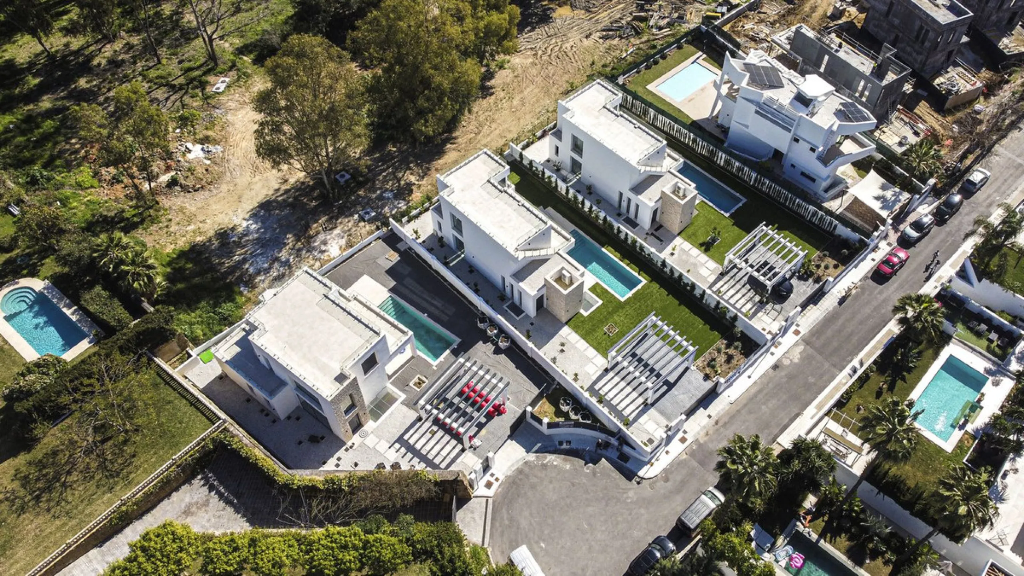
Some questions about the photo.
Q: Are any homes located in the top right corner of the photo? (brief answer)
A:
Yes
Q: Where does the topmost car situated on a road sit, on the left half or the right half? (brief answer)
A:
right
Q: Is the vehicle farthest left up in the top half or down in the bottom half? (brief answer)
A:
bottom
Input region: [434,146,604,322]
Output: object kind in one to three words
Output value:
house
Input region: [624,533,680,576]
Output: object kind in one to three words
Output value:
car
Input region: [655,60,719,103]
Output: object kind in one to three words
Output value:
swimming pool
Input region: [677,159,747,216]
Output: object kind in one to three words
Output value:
swimming pool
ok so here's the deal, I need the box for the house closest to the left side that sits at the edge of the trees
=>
[213,264,416,442]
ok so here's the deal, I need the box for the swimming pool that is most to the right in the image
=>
[911,349,993,447]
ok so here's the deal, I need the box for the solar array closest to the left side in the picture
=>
[742,63,784,89]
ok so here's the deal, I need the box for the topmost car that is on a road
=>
[957,167,994,196]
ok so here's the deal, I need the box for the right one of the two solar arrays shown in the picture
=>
[839,102,871,129]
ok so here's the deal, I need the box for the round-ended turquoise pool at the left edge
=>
[0,285,90,358]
